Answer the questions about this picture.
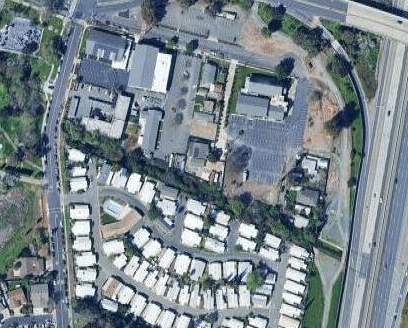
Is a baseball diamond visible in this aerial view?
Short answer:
No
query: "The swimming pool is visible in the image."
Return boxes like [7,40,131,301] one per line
[103,199,131,220]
